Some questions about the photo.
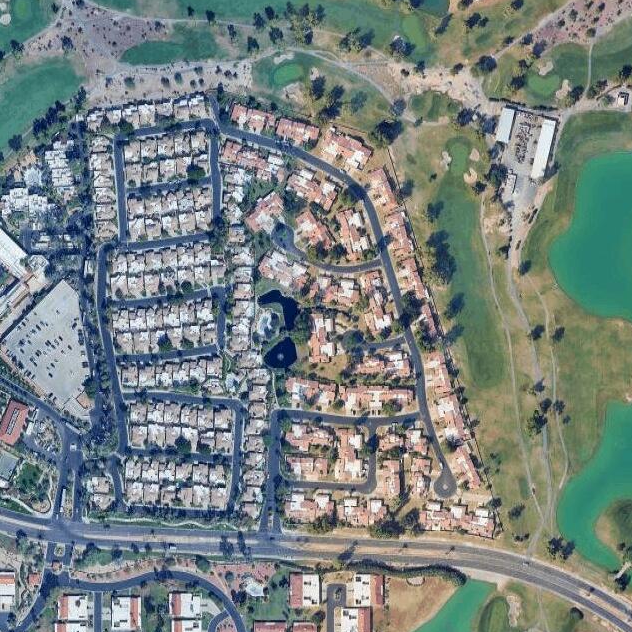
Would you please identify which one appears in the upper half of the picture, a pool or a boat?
pool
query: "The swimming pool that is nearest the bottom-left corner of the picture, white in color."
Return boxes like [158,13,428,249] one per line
[246,576,266,597]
